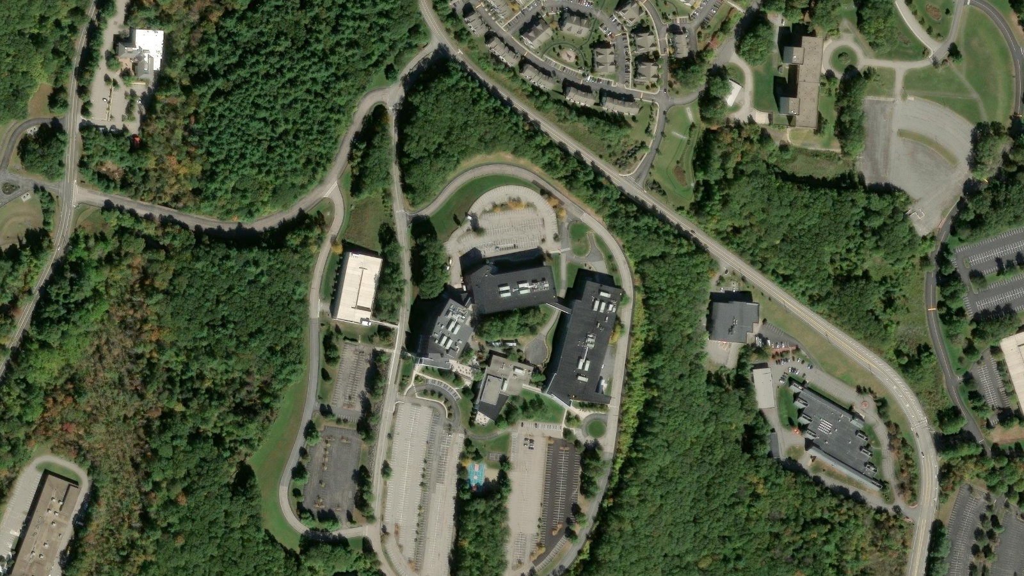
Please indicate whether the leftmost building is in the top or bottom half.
bottom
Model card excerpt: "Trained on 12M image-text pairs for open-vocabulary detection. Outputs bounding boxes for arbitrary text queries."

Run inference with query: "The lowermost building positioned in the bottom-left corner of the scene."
[10,475,79,576]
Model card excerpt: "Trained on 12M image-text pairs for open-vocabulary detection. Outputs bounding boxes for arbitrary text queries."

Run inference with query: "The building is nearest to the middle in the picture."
[465,265,558,314]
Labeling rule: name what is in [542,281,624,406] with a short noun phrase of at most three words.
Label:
building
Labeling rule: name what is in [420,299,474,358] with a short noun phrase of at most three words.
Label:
building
